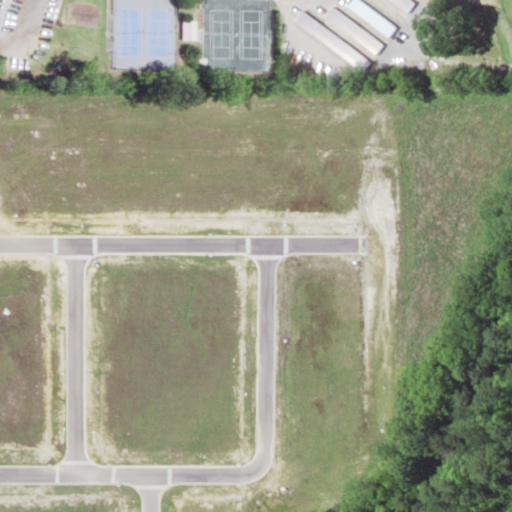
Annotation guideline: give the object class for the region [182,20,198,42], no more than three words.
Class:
building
